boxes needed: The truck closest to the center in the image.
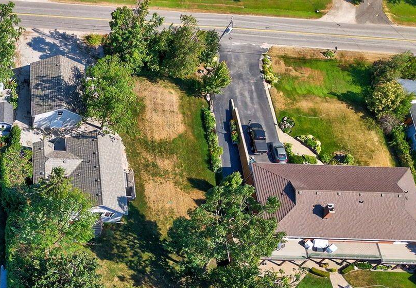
[244,124,270,163]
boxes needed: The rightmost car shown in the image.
[268,138,291,164]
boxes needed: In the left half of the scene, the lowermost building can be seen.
[32,135,137,224]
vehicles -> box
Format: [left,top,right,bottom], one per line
[268,138,291,164]
[244,124,270,163]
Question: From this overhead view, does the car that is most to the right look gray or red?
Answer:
gray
